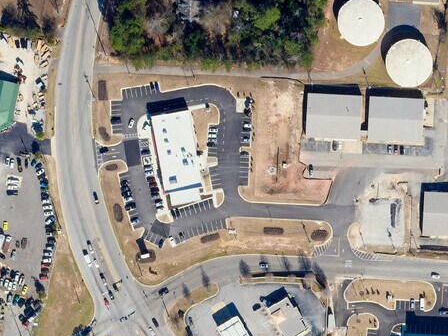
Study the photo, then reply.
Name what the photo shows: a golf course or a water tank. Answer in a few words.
water tank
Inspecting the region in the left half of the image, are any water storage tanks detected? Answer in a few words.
No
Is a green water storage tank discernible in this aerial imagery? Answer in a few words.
No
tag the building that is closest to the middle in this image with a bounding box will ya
[150,103,206,206]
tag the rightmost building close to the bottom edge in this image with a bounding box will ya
[267,298,308,336]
